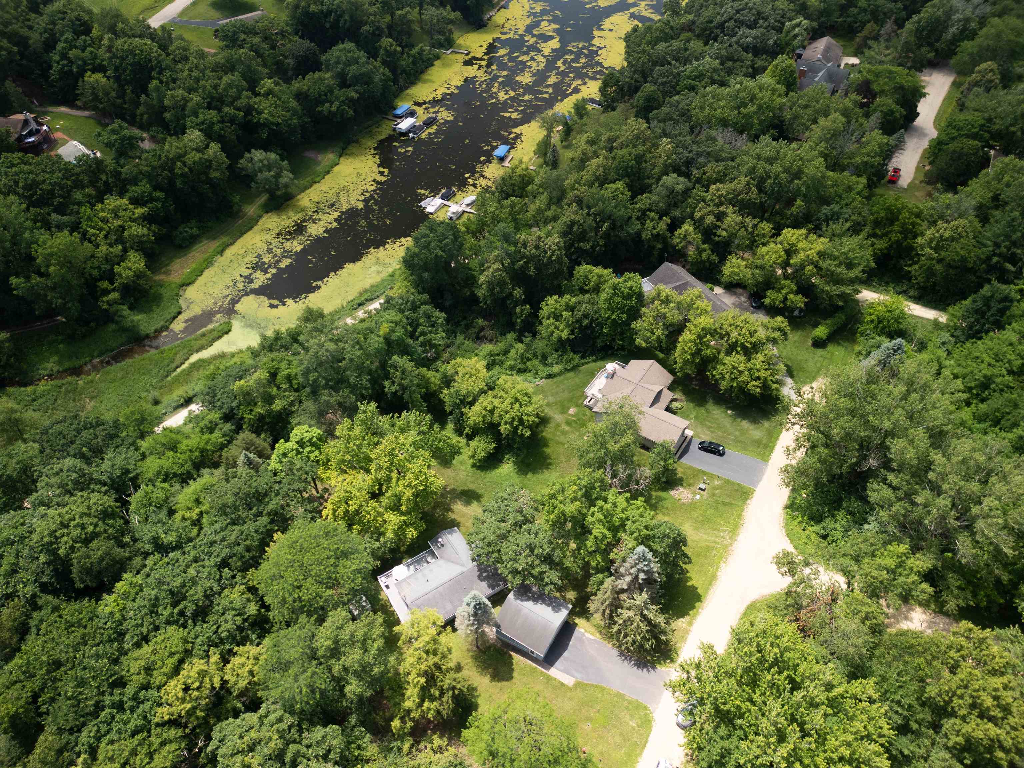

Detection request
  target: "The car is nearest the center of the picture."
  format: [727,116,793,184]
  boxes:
[698,442,726,458]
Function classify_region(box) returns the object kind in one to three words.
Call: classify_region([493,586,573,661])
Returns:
building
